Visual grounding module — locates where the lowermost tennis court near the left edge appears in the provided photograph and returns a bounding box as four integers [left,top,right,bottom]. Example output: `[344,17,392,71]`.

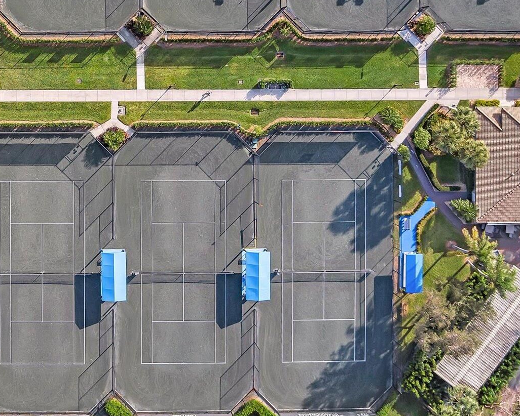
[0,132,114,412]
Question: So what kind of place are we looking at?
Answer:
sports ground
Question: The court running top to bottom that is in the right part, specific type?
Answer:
tennis court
